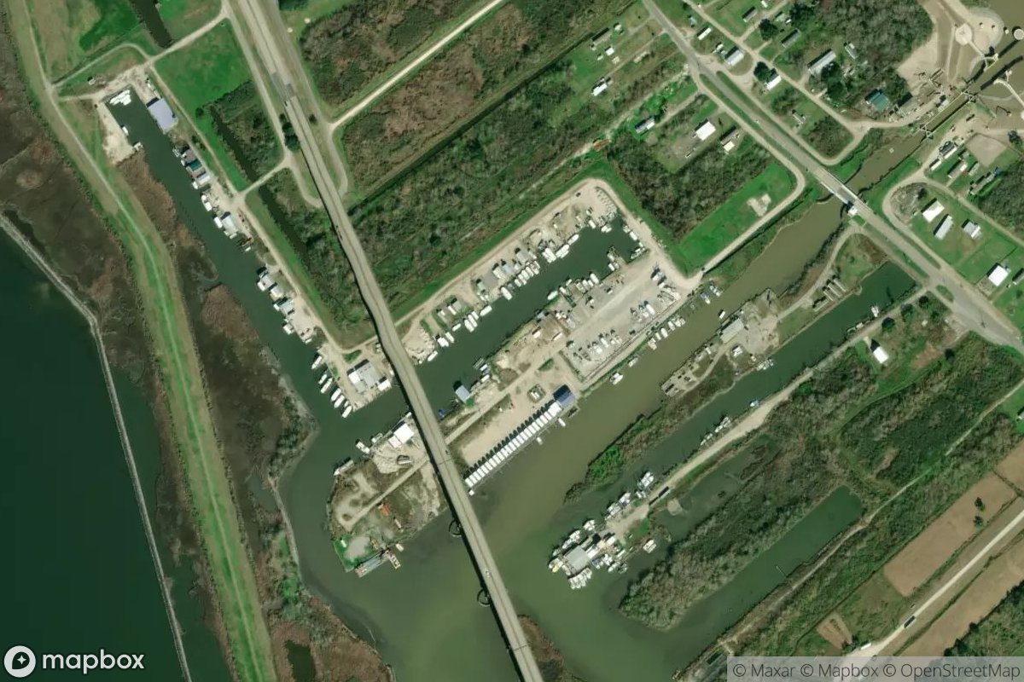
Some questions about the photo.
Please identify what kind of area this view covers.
port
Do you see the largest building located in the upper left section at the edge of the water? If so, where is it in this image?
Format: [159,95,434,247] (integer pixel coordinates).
[149,100,176,129]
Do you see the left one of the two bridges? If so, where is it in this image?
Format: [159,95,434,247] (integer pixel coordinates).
[274,77,543,682]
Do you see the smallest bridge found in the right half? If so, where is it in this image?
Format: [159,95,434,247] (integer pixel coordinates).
[817,168,869,208]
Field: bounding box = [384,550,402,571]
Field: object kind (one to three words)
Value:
ship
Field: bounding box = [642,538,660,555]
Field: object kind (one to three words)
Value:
boat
